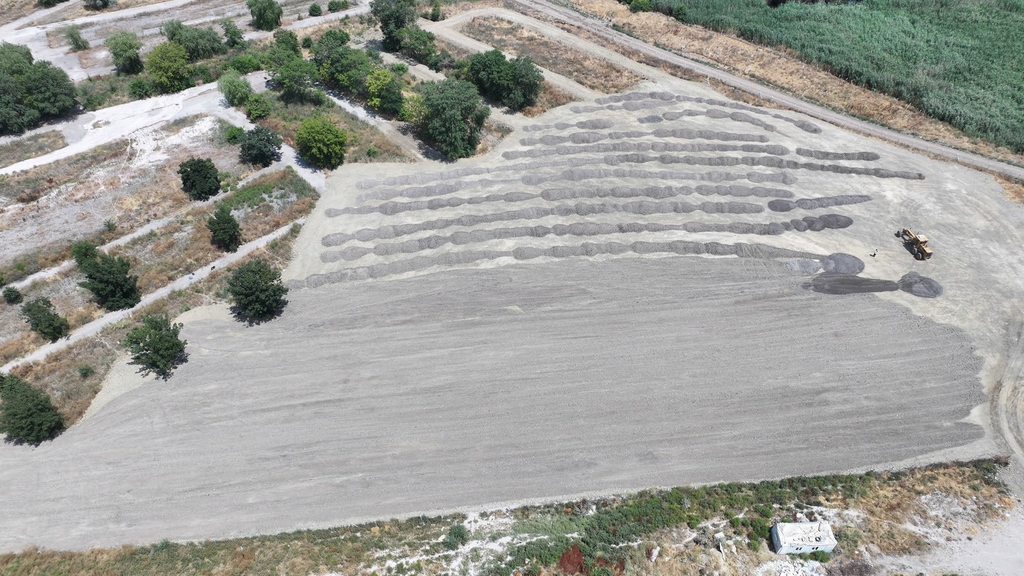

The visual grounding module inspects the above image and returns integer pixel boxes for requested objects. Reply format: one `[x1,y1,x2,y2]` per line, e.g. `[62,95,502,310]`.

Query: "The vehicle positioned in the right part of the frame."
[895,228,934,263]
